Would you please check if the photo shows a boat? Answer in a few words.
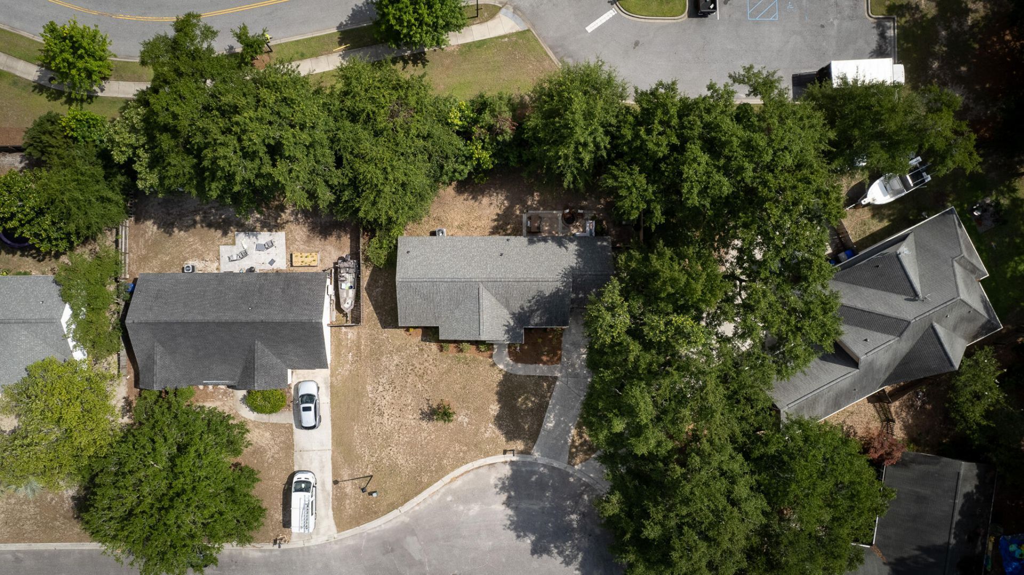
Yes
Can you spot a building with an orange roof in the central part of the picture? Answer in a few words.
No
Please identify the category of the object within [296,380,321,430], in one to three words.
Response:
car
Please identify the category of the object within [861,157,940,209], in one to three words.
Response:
boat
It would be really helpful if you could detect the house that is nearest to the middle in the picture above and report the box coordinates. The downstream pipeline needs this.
[395,235,615,343]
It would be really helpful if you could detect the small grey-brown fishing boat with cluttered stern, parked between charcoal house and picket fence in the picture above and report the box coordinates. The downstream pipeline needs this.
[338,252,355,313]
